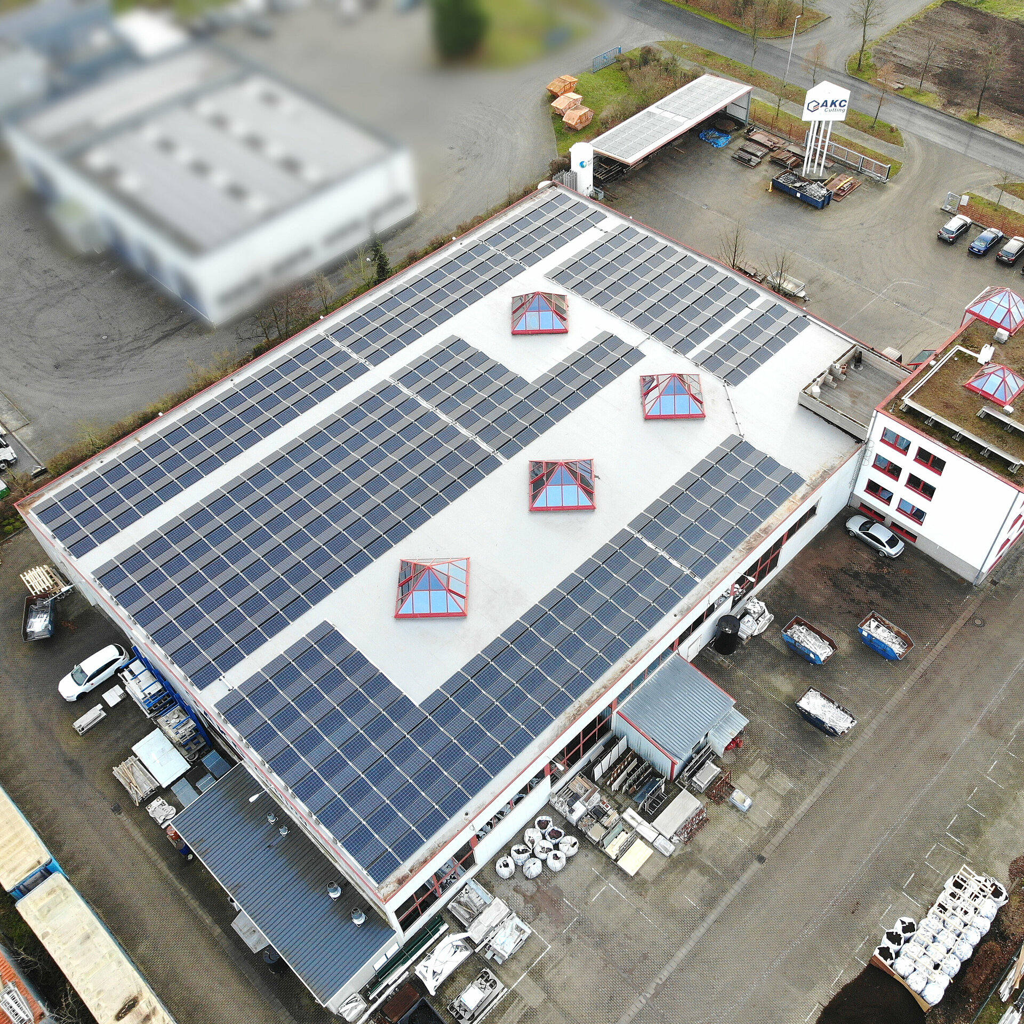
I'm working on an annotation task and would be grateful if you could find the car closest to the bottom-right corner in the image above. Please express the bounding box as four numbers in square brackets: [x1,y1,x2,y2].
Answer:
[843,516,909,560]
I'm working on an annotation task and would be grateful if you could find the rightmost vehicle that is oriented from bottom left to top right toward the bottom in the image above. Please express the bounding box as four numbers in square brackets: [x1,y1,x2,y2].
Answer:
[59,642,132,696]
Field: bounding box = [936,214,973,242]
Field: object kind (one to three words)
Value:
car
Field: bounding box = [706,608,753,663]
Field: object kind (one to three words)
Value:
water tank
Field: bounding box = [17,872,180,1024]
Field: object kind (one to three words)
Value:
trailer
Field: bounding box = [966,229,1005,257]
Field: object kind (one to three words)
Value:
car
